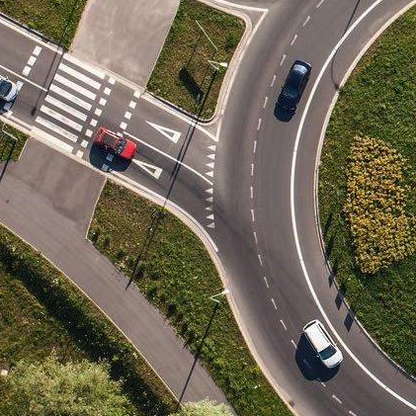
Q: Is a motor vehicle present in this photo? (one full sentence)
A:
Yes, a motor vehicle appears in the view.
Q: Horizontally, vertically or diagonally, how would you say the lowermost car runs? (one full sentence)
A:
The lowermost car runs diagonally in the image.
